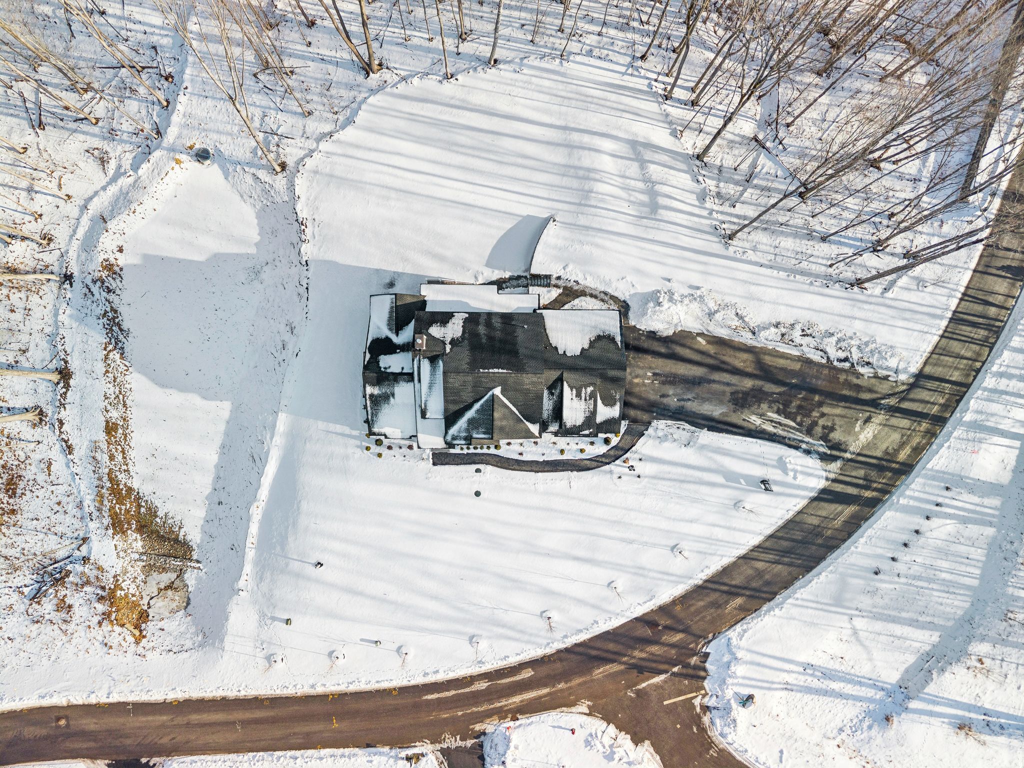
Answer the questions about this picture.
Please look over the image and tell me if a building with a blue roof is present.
No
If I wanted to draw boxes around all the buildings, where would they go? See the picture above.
[362,277,627,452]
